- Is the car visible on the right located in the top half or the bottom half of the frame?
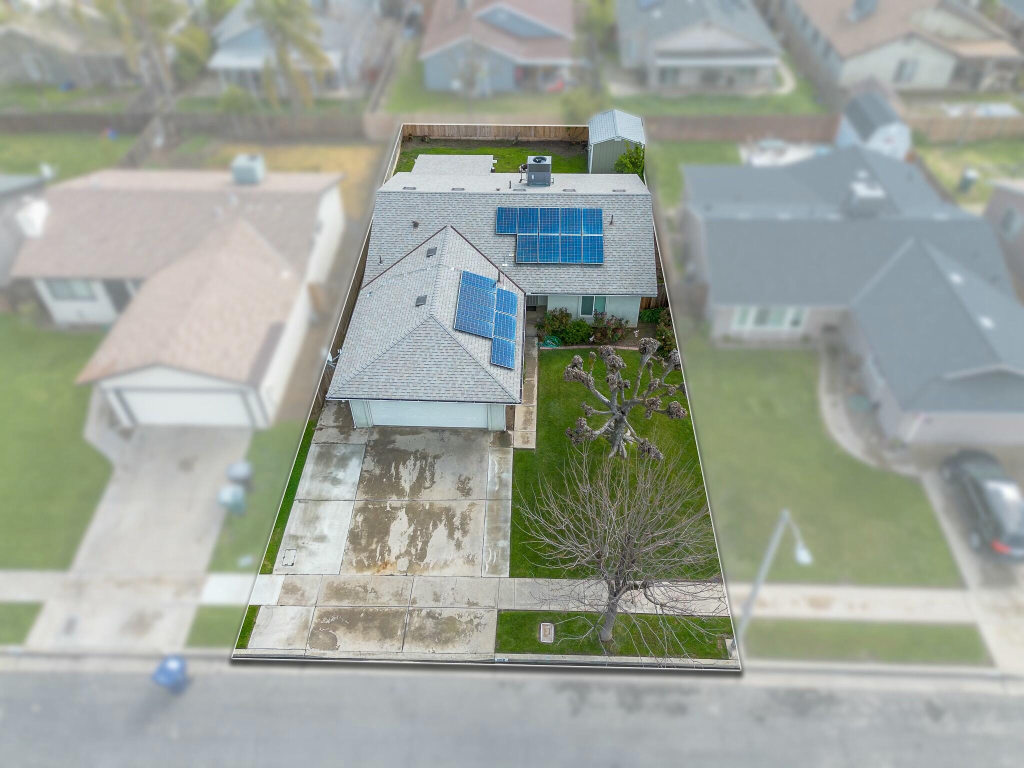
bottom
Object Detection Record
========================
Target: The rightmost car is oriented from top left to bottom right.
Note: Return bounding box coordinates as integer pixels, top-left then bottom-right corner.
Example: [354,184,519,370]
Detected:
[935,451,1024,552]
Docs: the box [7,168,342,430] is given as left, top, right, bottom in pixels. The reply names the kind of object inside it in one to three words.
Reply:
house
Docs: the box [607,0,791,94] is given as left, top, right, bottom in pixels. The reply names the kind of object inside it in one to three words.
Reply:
house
